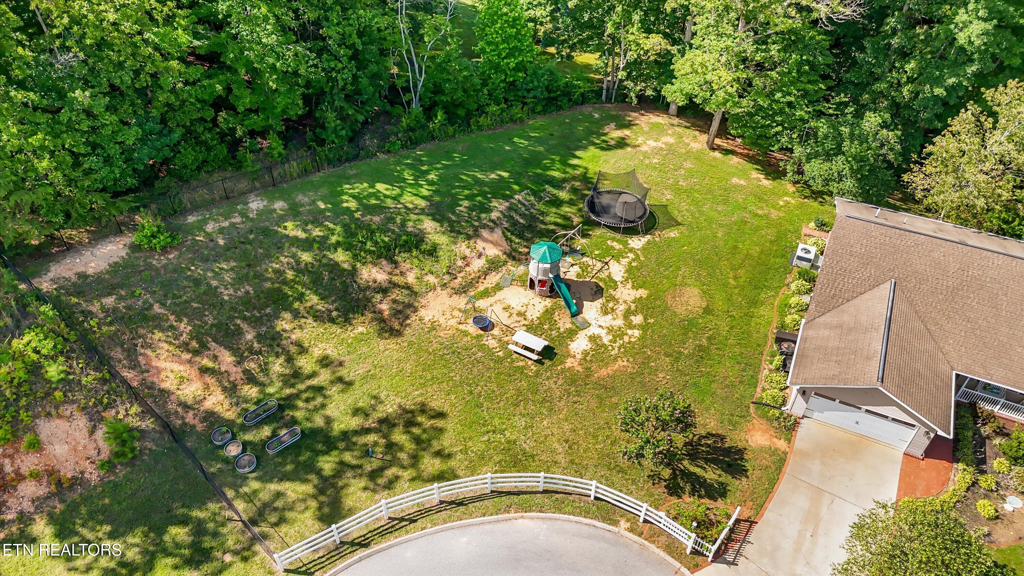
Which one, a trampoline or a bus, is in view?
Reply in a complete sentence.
I can see a trampoline in this picture.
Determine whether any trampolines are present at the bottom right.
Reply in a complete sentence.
No, I can find no trampoline at the bottom right.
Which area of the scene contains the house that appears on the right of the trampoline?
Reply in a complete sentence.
The house that appears on the right of the trampoline is located in the right region of the scene.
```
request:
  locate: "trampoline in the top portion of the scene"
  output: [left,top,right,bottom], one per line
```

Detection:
[583,170,652,237]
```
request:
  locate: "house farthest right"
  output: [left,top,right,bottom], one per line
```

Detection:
[781,196,1024,460]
